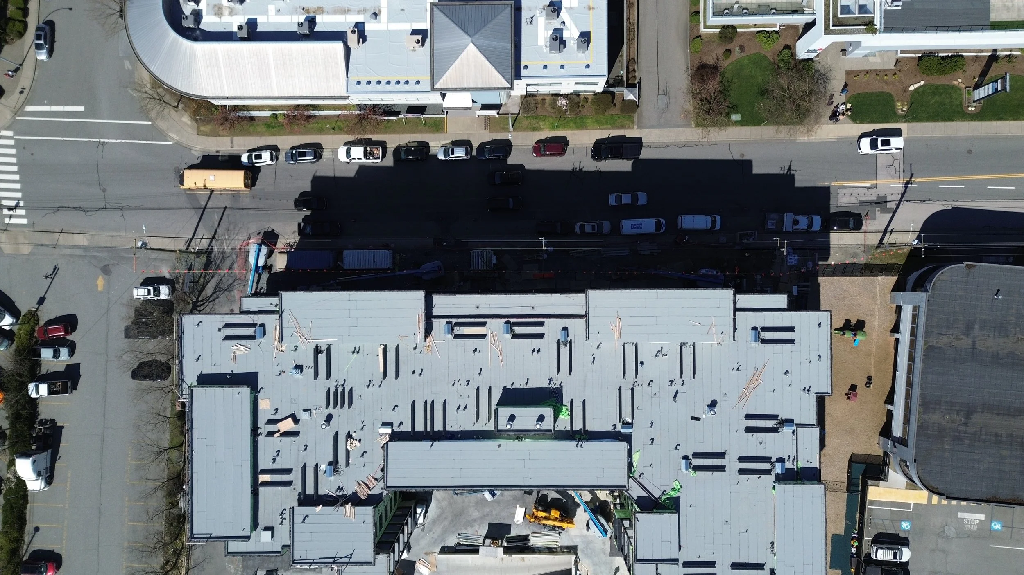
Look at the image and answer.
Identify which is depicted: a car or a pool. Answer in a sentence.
Of the two, only a car appears.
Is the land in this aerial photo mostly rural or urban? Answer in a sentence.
This place is urban.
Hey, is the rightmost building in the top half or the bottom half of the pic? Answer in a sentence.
It is in the bottom half that the rightmost building appears.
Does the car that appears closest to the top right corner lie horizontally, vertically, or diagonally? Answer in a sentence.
The car that appears closest to the top right corner runs horizontally in the image.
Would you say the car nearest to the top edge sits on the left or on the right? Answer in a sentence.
The car nearest to the top edge sits on the left side.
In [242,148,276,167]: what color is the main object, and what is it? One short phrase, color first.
white car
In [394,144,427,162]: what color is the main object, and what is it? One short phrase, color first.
black car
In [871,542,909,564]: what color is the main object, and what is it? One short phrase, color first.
white car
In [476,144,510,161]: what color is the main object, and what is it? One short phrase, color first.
black car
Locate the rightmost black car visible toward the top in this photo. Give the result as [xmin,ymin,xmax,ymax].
[826,212,863,230]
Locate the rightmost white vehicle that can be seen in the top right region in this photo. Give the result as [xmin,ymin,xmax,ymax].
[856,135,904,155]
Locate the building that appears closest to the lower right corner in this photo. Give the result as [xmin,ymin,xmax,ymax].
[878,260,1024,508]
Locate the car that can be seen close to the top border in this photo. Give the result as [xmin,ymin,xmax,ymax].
[33,24,54,62]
